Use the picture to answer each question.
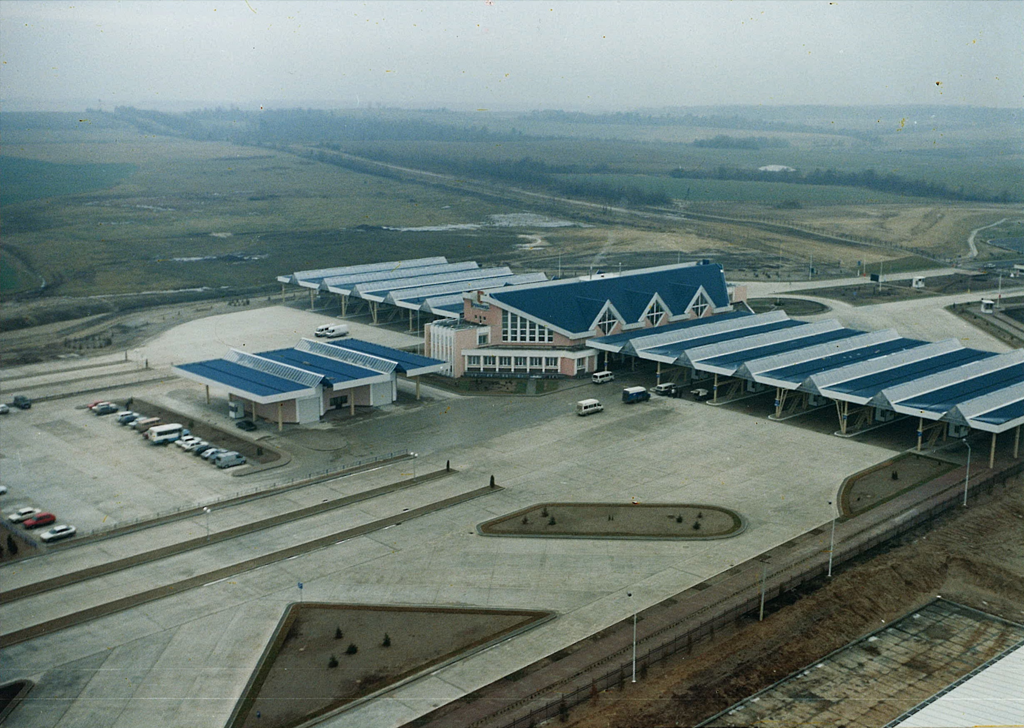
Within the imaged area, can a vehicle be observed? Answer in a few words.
Yes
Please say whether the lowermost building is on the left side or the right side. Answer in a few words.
right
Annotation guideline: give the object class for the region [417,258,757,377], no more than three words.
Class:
building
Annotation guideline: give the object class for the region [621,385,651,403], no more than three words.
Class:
vehicle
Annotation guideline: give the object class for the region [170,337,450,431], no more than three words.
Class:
building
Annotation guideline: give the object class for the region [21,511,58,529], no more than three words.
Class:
car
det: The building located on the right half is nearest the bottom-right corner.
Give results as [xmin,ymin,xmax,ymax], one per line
[870,629,1024,728]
